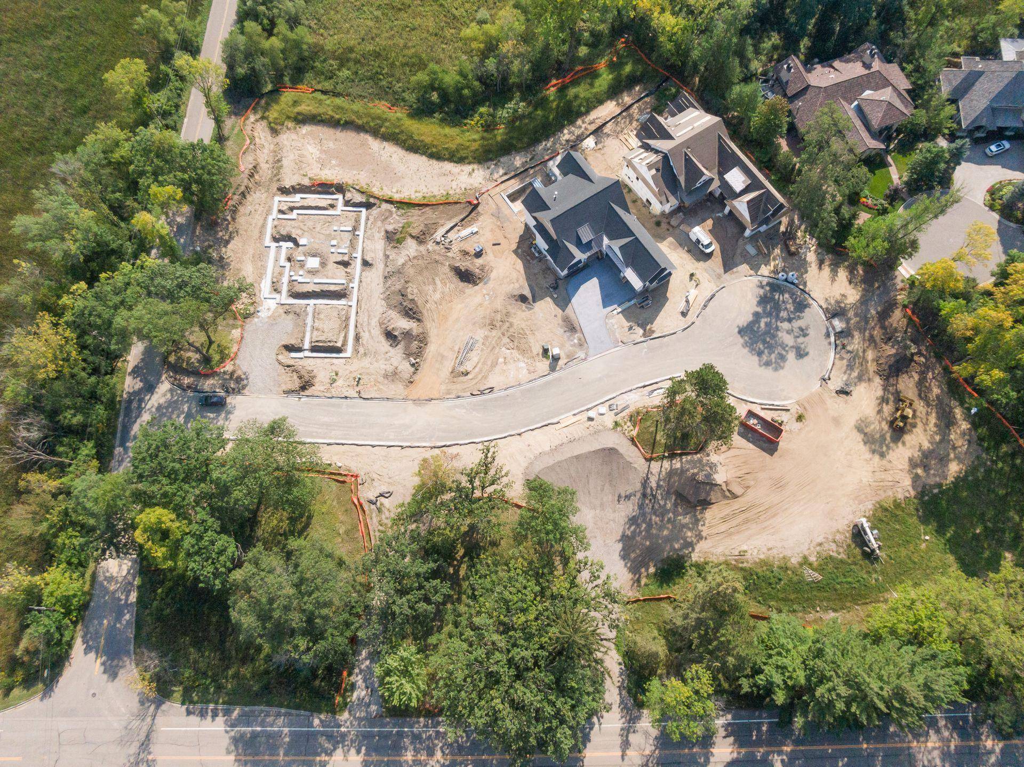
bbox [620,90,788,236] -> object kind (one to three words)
house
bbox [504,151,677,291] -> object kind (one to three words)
house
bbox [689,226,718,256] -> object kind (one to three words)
van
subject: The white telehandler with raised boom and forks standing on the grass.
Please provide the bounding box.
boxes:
[857,523,890,573]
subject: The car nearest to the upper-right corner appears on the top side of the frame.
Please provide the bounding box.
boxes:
[986,141,1012,158]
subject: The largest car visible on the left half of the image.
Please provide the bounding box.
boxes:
[198,394,226,407]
